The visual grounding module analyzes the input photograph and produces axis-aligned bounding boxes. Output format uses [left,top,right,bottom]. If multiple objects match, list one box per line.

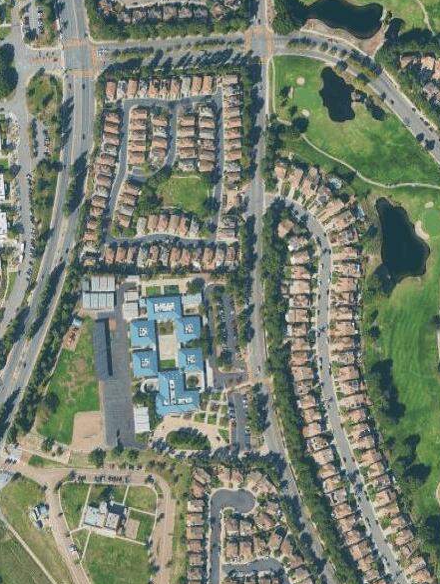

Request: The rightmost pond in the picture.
[379,199,428,291]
